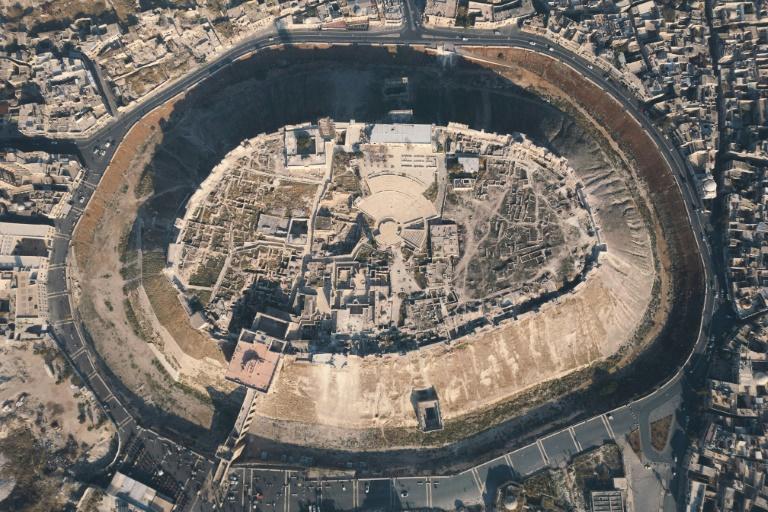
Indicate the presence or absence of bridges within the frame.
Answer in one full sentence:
Yes, the picture does show a bridge.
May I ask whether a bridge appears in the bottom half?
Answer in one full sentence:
Yes, a bridge can be seen in the bottom half.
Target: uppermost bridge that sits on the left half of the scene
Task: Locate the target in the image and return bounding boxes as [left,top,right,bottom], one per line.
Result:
[219,386,260,444]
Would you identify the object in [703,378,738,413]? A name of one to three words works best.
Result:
house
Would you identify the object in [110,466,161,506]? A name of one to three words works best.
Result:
building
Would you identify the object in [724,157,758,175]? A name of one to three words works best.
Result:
house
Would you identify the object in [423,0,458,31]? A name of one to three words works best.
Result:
building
